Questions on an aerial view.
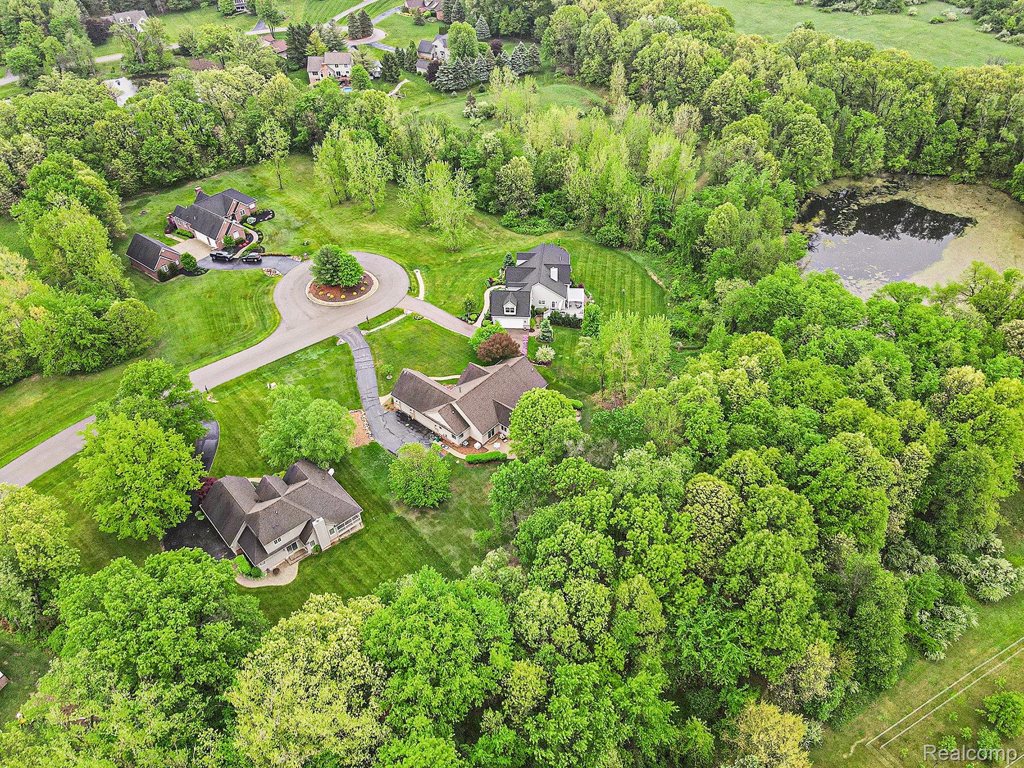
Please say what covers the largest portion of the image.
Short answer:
trees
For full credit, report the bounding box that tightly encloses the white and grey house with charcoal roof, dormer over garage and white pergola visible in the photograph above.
[490,244,585,326]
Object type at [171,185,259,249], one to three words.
house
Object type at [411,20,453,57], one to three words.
house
